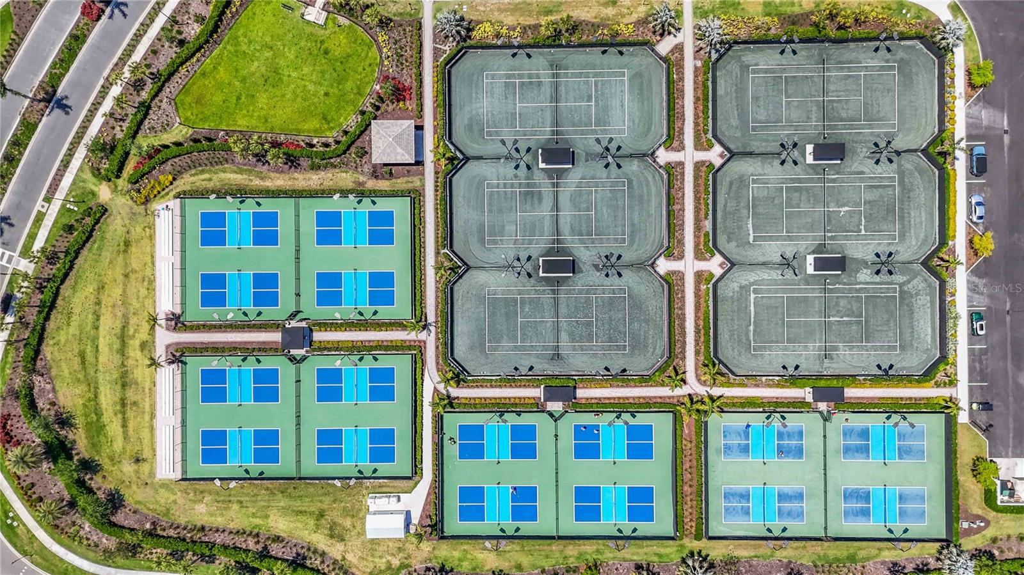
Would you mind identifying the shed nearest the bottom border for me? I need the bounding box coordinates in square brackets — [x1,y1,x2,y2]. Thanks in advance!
[363,510,407,540]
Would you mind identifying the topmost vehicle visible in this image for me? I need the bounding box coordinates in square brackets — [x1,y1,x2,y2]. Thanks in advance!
[970,146,988,175]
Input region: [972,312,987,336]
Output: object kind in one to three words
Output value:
car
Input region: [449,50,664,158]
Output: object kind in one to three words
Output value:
tennis court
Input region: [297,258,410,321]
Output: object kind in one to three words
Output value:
sports court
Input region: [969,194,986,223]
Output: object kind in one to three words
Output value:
car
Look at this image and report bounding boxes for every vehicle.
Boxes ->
[969,194,986,223]
[972,312,987,336]
[970,146,988,175]
[970,402,995,411]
